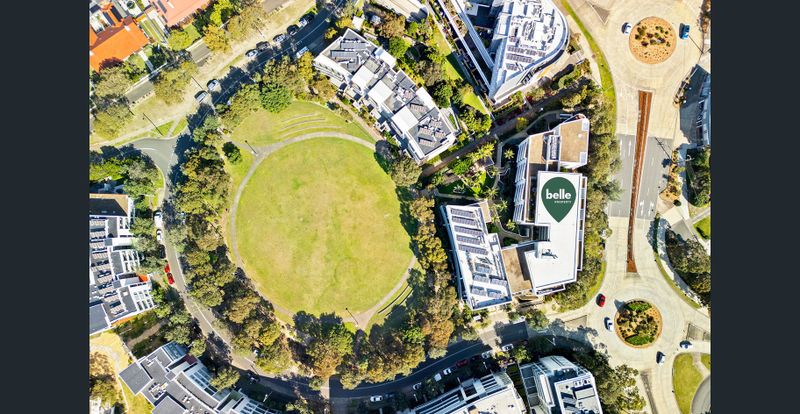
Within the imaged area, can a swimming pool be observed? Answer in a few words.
No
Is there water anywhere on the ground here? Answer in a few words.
No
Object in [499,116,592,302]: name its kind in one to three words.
building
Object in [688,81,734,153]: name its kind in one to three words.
building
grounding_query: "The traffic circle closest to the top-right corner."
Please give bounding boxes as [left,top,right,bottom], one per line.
[629,16,676,63]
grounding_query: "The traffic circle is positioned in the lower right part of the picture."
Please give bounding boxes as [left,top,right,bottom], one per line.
[616,302,661,348]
